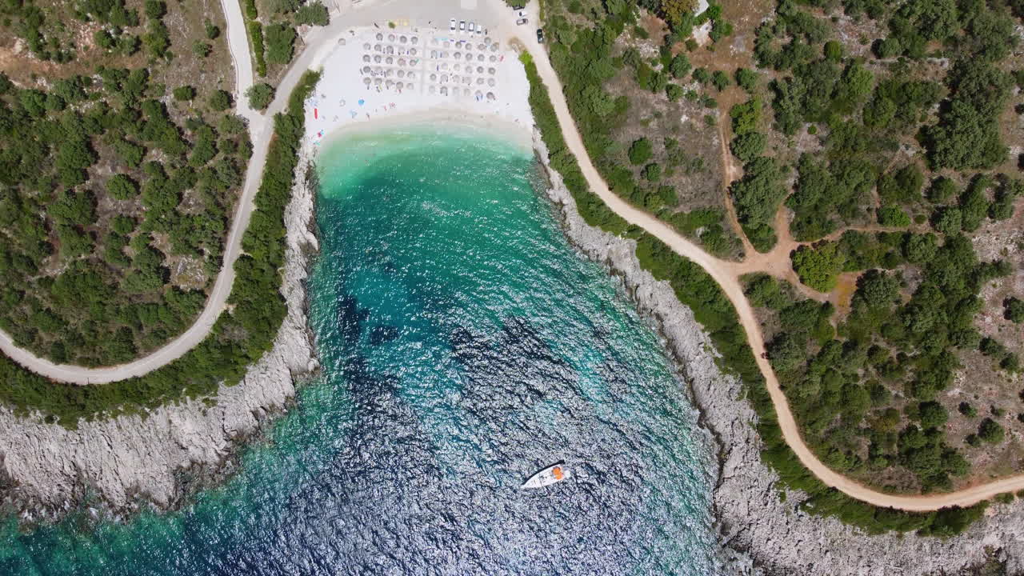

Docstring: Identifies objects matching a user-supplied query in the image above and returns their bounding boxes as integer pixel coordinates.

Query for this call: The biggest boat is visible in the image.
[521,464,568,489]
